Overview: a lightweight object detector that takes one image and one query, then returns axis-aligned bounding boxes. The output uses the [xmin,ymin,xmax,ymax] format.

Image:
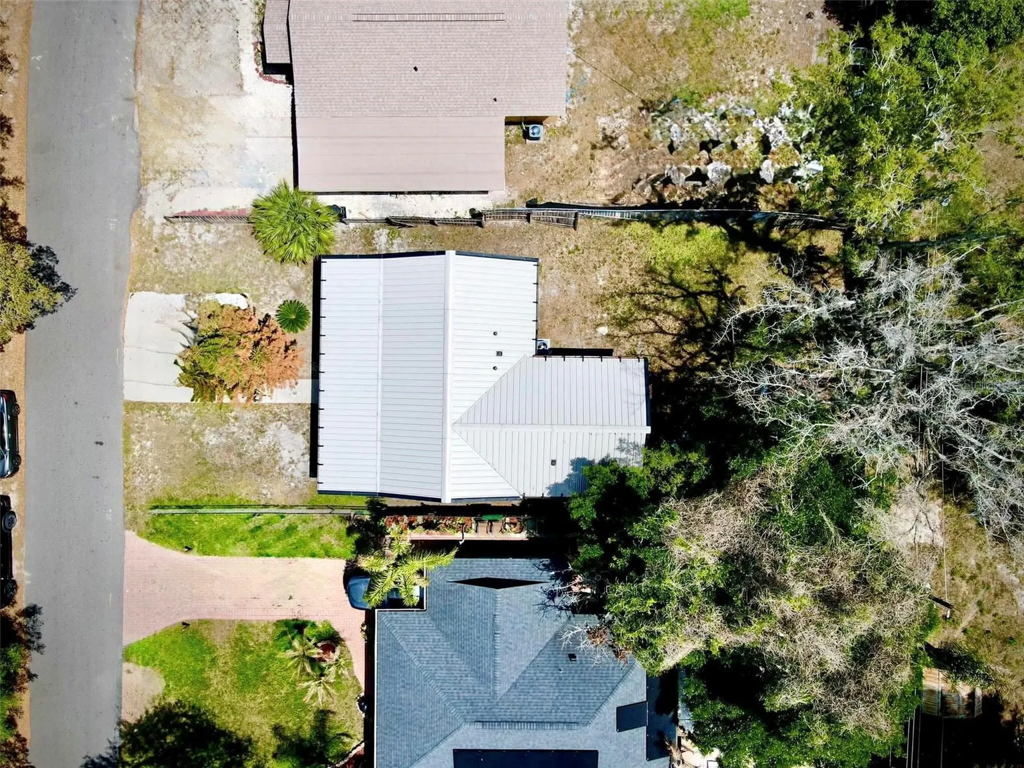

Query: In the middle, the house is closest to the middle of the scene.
[315,246,655,508]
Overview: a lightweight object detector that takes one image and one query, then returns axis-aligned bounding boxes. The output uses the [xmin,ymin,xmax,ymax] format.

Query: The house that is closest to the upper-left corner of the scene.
[259,0,569,194]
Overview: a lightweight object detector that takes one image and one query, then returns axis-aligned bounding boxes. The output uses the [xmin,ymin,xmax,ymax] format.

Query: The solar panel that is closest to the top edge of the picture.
[617,702,647,733]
